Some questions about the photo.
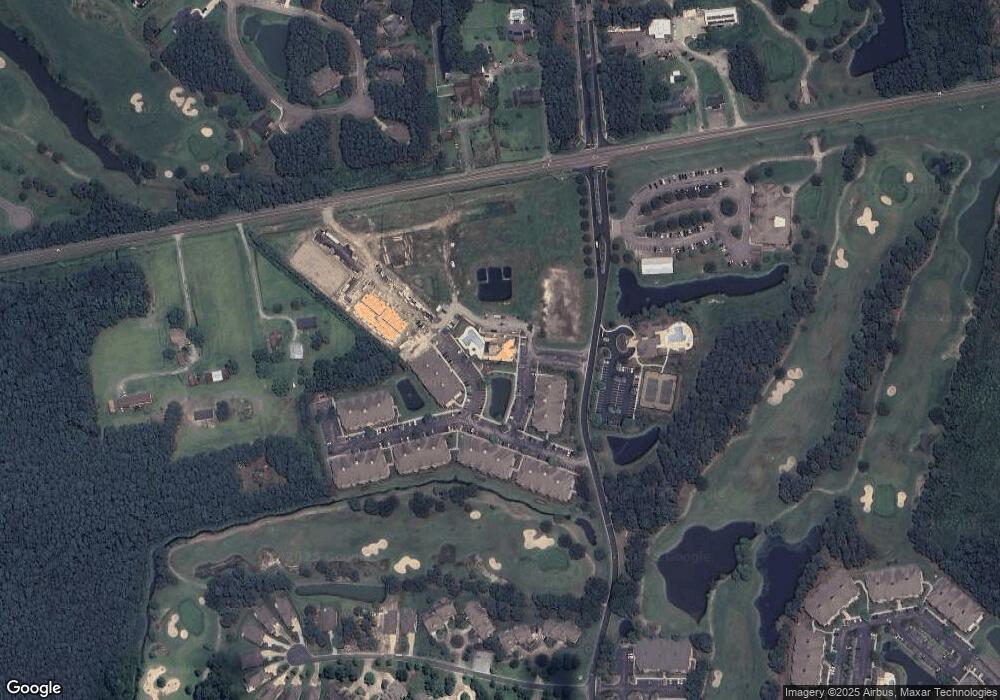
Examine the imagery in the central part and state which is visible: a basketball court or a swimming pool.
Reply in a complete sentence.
What appears in the central part is a swimming pool.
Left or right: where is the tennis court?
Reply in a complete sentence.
The tennis court is on the right side of the image.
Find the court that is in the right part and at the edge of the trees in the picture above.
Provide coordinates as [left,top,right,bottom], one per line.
[641,372,678,410]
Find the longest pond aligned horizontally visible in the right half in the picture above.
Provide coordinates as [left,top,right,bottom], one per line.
[617,265,789,316]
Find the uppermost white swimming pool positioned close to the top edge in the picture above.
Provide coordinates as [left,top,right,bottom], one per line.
[509,9,524,23]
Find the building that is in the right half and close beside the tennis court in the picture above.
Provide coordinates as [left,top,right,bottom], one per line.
[642,322,663,356]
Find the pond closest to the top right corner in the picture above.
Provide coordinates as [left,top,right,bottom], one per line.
[850,0,907,77]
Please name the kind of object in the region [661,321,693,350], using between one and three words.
swimming pool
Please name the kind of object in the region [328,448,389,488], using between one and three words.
building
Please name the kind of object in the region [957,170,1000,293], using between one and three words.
pond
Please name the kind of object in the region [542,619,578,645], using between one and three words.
house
